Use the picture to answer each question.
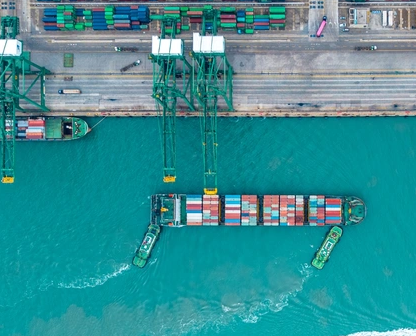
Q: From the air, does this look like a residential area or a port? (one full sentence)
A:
This looks like a port.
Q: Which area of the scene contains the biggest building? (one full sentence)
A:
The biggest building is located in the top right region of the scene.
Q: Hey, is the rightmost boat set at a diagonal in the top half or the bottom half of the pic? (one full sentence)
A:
Seen from above, the rightmost boat set at a diagonal lies in the bottom half of the view.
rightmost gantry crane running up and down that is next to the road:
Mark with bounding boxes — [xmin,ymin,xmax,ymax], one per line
[191,7,238,195]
